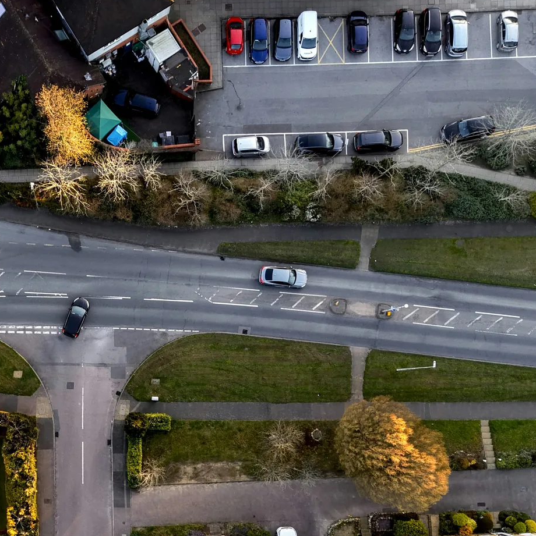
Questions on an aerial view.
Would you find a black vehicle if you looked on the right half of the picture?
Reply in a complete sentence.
Yes, a black vehicle is visible on the right half of the picture.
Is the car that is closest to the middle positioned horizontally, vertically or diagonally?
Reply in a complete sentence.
The car that is closest to the middle is oriented horizontally.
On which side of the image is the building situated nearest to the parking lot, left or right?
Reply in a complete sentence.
The building situated nearest to the parking lot appears in the left half of the scene.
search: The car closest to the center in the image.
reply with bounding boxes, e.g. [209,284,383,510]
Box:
[257,265,306,289]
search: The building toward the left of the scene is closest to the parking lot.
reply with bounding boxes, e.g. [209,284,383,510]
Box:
[159,47,198,105]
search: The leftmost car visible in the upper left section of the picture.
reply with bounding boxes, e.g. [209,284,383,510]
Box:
[111,87,162,120]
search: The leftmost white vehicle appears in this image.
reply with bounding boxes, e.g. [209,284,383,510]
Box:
[230,134,270,157]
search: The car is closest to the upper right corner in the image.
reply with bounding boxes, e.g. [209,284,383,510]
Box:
[493,10,520,53]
